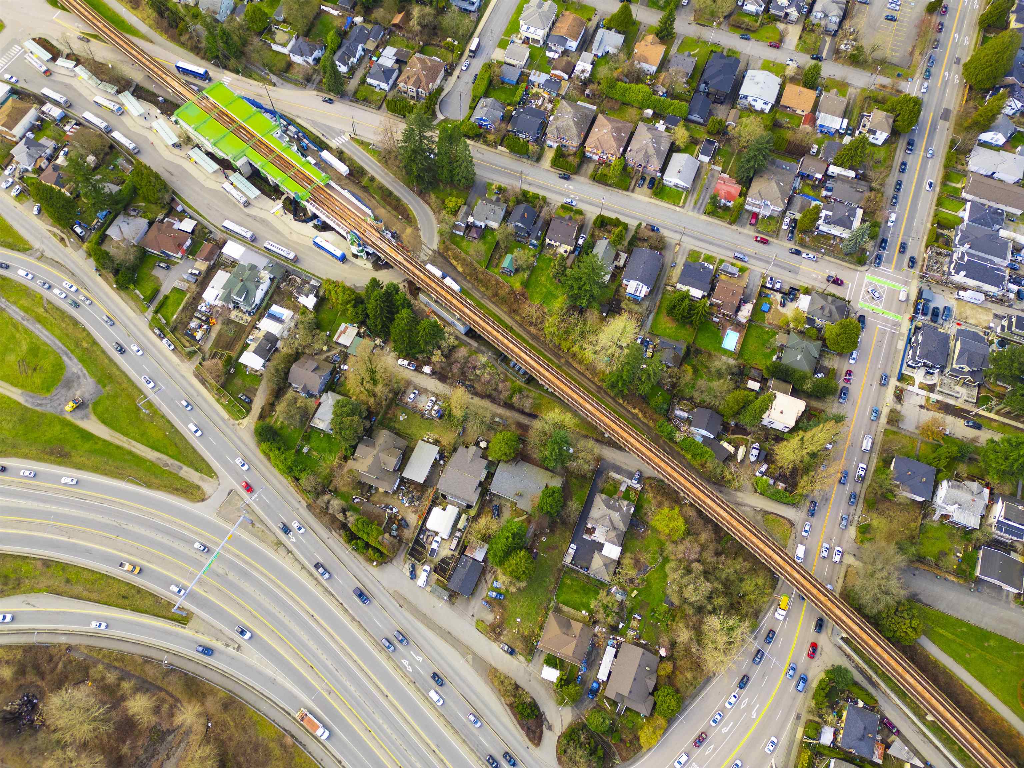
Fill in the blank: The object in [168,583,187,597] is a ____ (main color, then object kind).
white car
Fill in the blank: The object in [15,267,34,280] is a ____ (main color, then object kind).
white vehicle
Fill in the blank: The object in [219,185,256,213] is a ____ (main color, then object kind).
white bus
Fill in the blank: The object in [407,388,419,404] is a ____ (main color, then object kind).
white vehicle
